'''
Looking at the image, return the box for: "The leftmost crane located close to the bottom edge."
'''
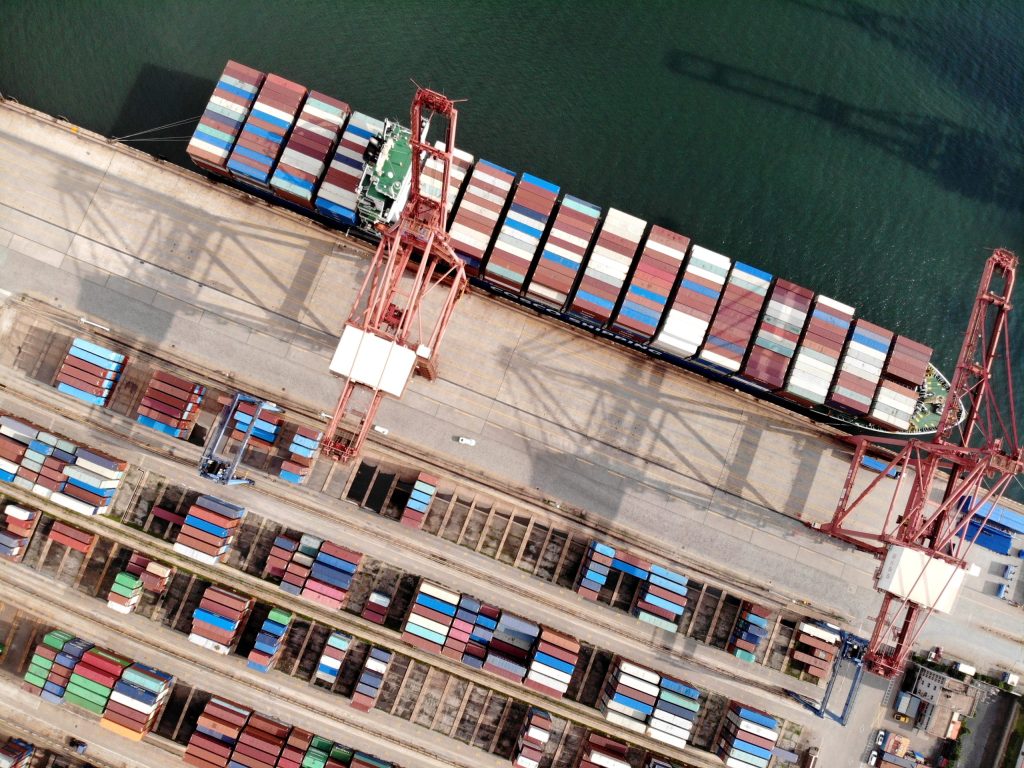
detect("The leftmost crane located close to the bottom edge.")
[782,612,879,735]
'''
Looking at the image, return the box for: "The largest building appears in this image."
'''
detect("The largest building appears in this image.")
[896,660,980,743]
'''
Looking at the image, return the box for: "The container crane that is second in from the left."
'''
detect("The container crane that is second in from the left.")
[317,77,479,466]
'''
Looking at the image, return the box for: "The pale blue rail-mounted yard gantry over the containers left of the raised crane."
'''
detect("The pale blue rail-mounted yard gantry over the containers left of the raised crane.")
[199,388,291,494]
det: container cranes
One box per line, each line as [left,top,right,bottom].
[317,77,479,466]
[199,388,291,494]
[805,250,1024,683]
[782,612,879,735]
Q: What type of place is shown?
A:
port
